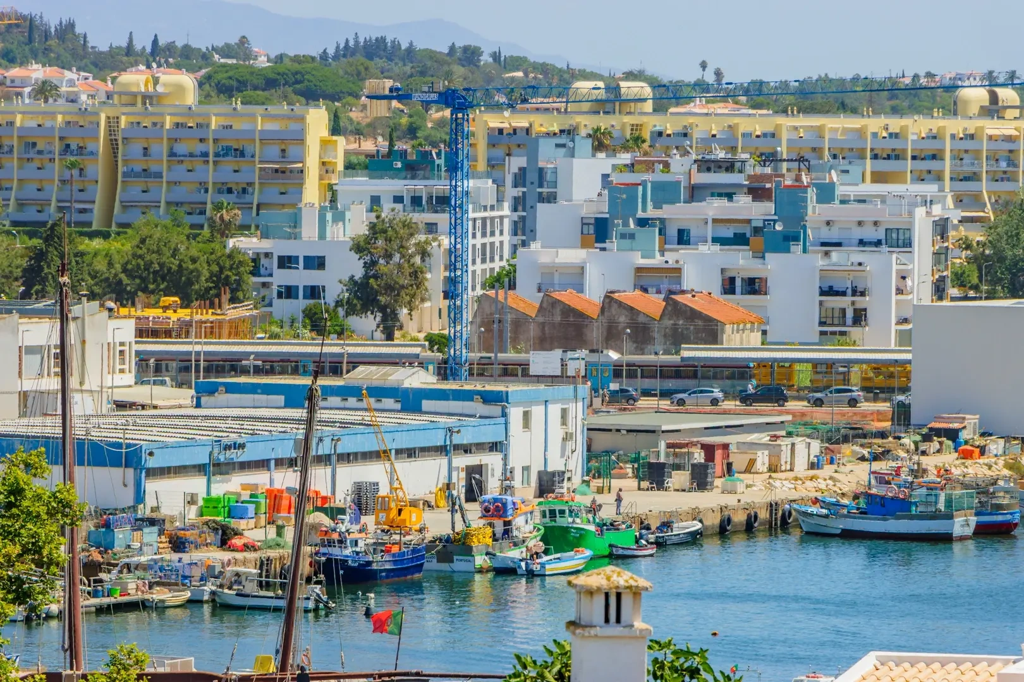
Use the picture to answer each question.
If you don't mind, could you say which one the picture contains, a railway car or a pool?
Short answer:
railway car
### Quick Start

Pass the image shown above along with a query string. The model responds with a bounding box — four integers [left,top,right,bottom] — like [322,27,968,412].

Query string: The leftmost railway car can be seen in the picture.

[134,345,297,385]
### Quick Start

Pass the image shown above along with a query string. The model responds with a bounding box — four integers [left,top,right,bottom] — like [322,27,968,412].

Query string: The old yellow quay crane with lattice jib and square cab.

[360,387,434,534]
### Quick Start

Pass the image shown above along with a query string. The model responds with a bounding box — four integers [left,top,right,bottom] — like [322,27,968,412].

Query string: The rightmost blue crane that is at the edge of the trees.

[363,71,1024,382]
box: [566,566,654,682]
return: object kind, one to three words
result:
chimney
